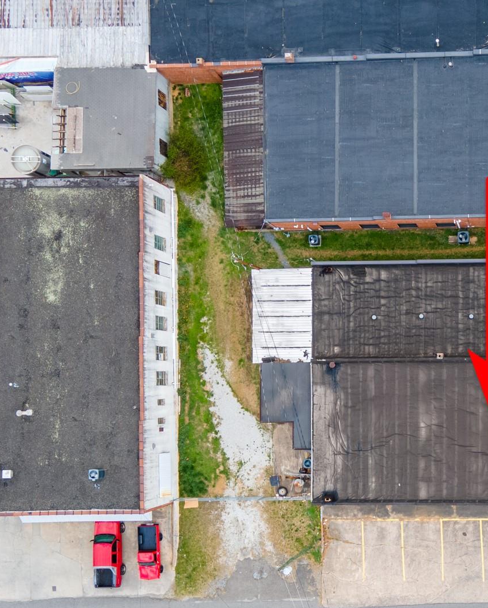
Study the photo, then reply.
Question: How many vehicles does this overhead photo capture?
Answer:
2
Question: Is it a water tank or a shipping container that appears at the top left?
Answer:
water tank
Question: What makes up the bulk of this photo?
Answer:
buildings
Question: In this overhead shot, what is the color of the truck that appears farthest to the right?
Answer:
red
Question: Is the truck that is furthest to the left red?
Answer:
Yes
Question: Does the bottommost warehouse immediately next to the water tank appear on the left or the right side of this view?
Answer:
left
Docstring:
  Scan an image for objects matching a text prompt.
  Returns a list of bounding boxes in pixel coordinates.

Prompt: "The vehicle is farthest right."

[133,522,166,583]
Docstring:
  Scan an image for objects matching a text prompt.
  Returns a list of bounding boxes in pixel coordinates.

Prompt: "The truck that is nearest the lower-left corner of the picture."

[89,521,127,590]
